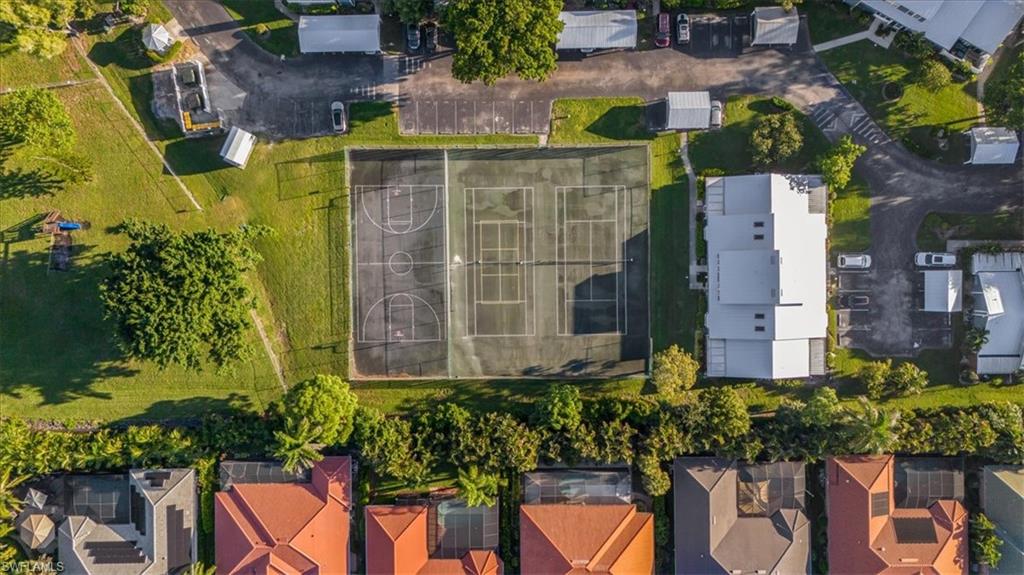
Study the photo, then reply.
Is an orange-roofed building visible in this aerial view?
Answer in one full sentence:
Yes, this view includes an orange-roofed building.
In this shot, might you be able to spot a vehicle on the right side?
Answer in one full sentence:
Yes, there is a vehicle on the right side.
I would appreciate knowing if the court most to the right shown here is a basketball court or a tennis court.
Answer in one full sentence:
Specifically, the court most to the right is a tennis court.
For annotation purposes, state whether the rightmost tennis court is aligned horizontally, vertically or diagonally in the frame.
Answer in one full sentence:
The rightmost tennis court is oriented vertically.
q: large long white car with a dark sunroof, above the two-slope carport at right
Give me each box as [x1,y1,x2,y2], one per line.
[915,252,956,268]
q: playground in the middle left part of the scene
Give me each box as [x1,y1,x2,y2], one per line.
[35,210,82,273]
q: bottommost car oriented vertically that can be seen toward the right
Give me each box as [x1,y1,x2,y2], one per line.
[710,98,724,130]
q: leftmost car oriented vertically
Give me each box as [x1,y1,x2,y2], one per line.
[331,101,347,134]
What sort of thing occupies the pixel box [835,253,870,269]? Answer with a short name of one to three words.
car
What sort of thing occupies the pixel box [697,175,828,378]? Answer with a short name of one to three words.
building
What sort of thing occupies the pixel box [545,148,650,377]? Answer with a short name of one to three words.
tennis court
